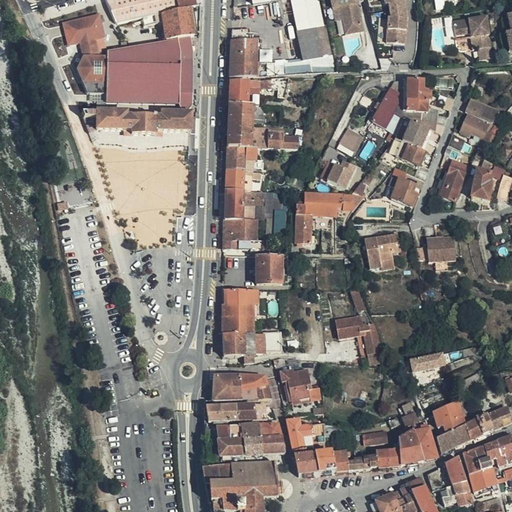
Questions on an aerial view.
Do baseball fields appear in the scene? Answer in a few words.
No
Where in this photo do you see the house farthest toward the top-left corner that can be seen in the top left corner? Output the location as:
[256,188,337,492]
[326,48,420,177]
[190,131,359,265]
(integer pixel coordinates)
[62,13,104,55]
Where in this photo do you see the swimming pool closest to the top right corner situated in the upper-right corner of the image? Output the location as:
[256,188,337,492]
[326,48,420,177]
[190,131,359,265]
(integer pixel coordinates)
[432,27,444,52]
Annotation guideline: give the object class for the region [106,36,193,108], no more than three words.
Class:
building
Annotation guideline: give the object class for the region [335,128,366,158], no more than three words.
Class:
house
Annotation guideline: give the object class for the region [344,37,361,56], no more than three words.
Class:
swimming pool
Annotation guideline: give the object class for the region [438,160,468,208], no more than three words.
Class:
house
